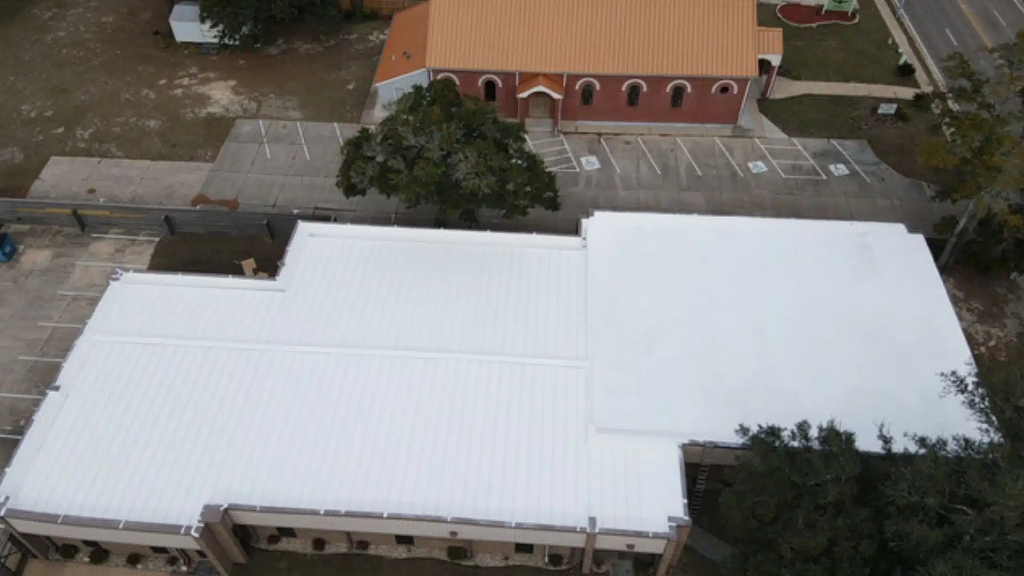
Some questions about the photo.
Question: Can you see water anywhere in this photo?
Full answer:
No, there's no water in this view.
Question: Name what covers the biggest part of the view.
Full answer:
The largest share of the image is taken up by buildings.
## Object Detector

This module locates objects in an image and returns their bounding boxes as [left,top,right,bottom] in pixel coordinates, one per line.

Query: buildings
[371,0,783,133]
[0,207,1019,565]
[168,4,248,44]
